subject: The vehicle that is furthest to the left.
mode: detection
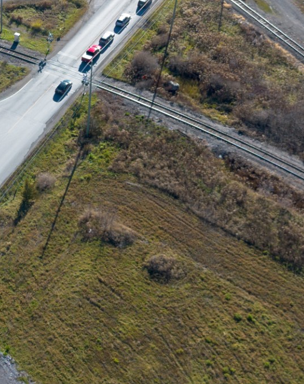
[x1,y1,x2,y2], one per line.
[53,81,74,98]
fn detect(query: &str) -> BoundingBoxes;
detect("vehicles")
[115,14,131,28]
[80,44,102,62]
[98,32,115,46]
[137,0,153,11]
[53,81,74,98]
